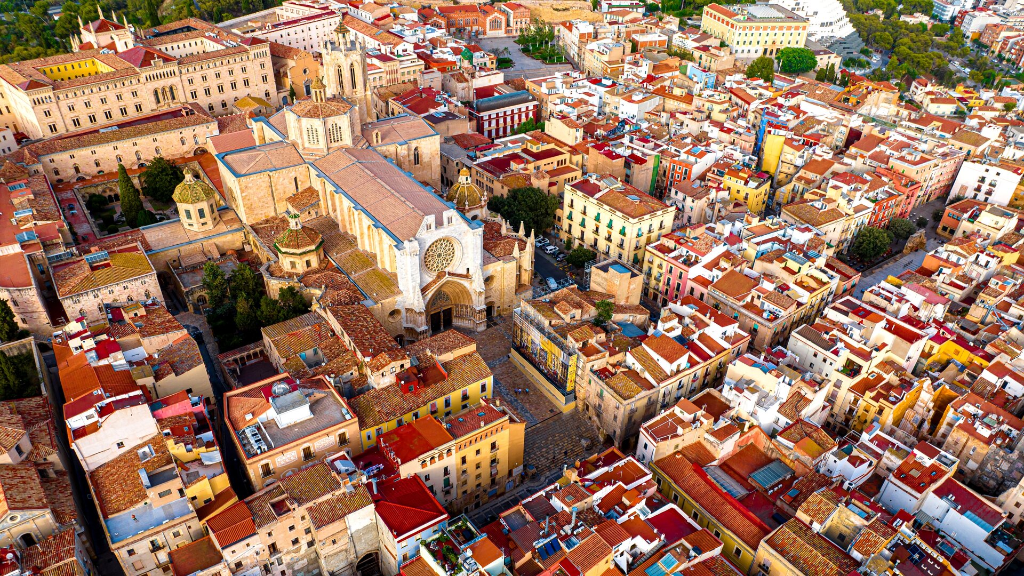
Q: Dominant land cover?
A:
buildings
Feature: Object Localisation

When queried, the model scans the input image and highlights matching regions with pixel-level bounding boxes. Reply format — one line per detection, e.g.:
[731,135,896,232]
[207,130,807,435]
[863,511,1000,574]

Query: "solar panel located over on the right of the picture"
[905,545,930,568]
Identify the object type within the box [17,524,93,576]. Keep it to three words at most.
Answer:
house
